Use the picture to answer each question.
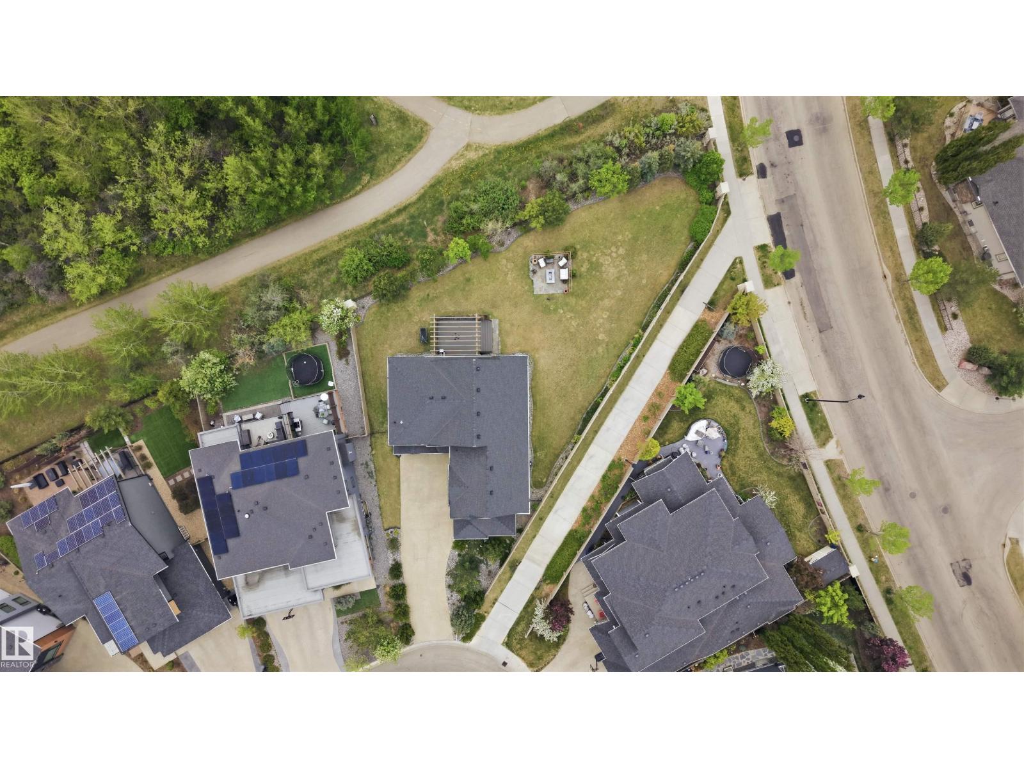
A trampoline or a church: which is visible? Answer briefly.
trampoline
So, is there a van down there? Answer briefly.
No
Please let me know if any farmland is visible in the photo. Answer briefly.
No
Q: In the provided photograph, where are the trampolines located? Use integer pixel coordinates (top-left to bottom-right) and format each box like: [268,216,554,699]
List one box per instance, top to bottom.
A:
[716,344,759,381]
[284,351,326,388]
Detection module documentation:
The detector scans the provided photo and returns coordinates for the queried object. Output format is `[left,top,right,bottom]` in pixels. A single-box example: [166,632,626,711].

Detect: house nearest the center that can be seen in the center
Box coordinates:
[387,354,531,540]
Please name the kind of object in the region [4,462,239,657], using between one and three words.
house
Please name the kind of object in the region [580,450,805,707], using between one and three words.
house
